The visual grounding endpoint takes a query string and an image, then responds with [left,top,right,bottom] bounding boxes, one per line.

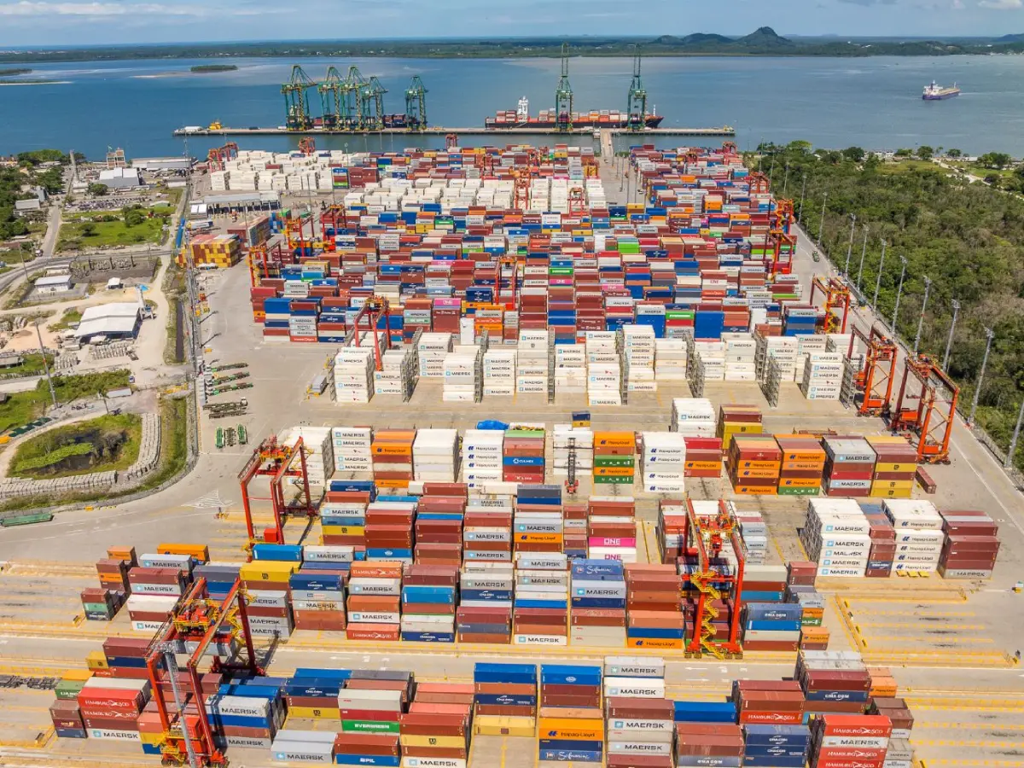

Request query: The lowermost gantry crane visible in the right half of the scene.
[677,500,751,659]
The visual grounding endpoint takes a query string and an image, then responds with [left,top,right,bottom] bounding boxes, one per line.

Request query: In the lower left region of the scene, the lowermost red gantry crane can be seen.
[139,573,274,764]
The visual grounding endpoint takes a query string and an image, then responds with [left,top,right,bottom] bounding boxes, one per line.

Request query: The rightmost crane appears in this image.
[886,364,972,467]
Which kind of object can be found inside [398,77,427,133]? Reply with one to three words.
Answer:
crane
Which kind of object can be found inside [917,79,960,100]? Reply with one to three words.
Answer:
ship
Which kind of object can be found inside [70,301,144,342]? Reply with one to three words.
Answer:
shed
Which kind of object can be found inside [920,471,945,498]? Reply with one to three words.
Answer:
shipping container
